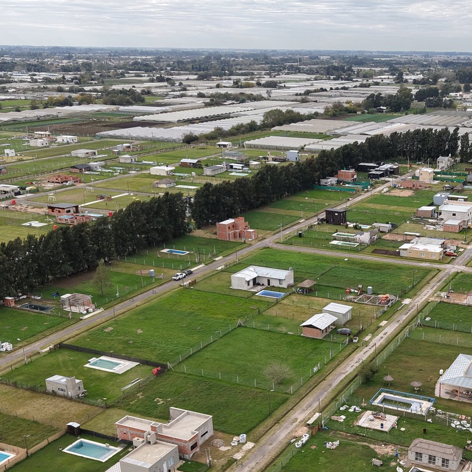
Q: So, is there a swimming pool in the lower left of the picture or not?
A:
Yes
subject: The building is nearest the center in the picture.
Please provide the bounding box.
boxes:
[216,217,249,239]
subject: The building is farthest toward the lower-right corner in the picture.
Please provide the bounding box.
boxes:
[405,435,466,472]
